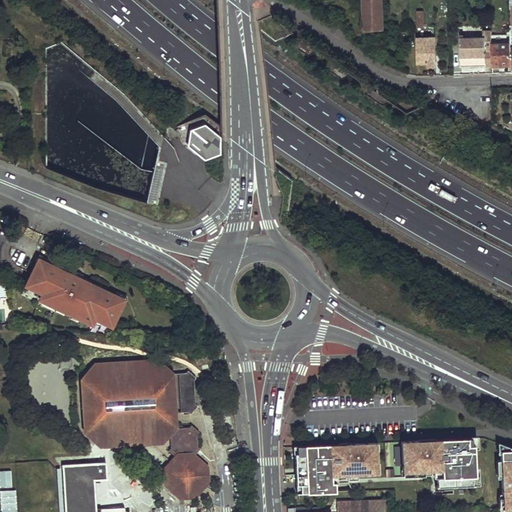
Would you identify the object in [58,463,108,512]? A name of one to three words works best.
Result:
building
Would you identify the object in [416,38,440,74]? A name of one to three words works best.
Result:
house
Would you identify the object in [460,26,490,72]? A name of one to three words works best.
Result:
house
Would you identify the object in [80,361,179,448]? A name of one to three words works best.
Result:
building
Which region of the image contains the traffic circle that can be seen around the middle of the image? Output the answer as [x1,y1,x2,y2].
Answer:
[205,236,321,353]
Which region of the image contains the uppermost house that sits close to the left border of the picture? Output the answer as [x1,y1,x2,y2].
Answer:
[22,258,127,330]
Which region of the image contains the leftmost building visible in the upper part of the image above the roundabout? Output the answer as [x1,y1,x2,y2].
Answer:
[188,126,222,161]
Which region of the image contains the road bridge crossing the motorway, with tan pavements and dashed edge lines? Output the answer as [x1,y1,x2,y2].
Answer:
[217,0,280,196]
